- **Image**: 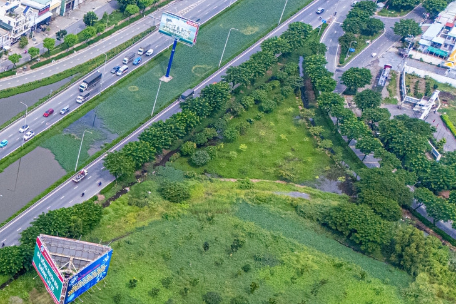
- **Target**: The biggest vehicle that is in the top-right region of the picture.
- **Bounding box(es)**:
[376,66,393,88]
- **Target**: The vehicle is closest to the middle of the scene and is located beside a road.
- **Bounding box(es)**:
[177,85,197,102]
